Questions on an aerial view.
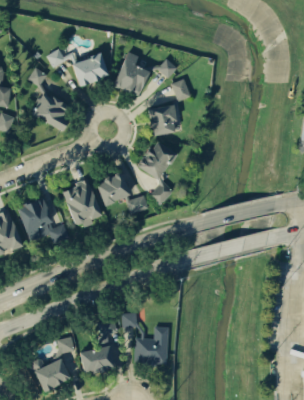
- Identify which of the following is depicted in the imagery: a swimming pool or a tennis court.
swimming pool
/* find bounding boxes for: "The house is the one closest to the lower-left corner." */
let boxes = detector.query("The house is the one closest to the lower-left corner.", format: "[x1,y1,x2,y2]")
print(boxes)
[34,358,72,394]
